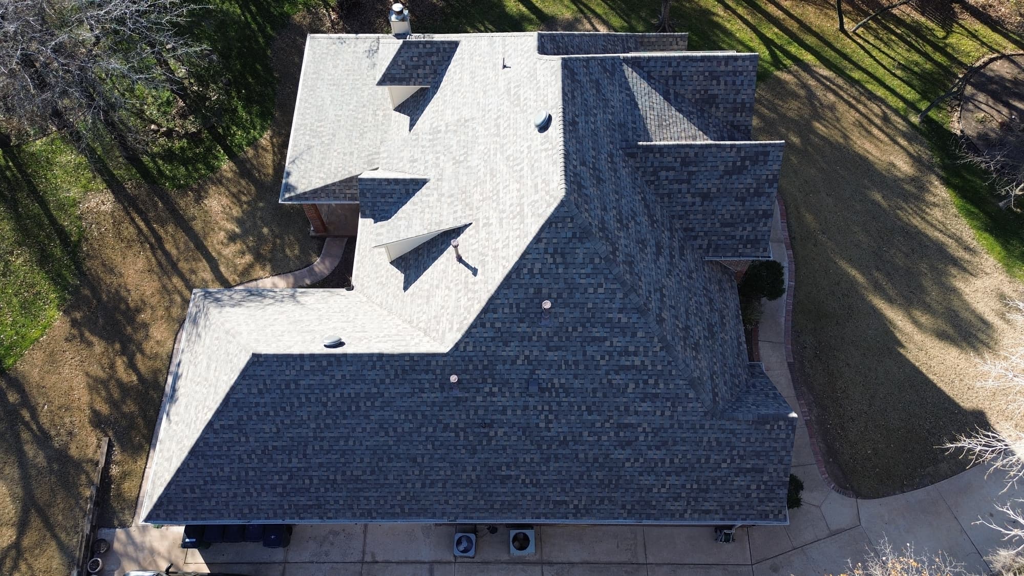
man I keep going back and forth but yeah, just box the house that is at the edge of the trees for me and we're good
[136,0,798,528]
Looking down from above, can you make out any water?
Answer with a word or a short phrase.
No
